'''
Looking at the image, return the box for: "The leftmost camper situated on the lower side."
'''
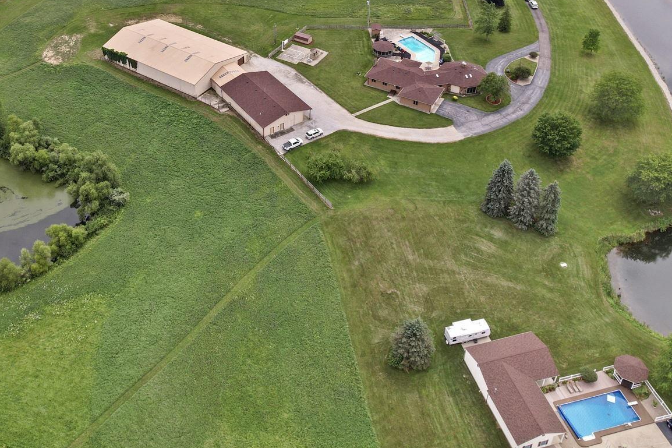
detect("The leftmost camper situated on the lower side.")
[446,316,491,343]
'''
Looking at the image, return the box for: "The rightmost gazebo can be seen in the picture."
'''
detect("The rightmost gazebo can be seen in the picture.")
[613,356,650,392]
